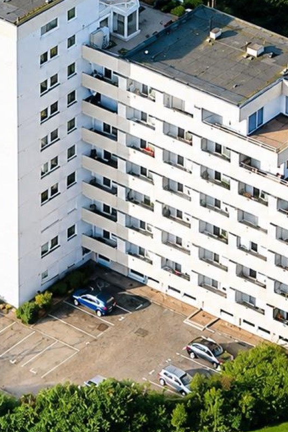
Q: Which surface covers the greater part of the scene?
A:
buildings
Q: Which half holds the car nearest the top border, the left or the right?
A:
left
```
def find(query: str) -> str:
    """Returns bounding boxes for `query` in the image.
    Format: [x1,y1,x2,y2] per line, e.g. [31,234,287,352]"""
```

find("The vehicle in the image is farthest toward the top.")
[75,288,120,316]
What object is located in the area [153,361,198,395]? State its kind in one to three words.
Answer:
car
